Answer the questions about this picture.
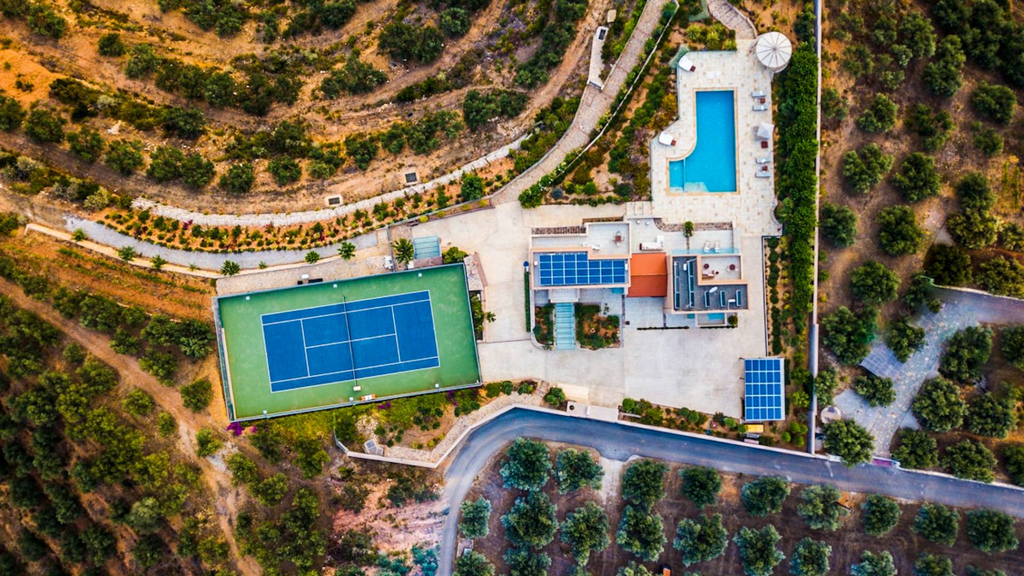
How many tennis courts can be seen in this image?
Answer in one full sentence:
The photo contains exactly 1 tennis court.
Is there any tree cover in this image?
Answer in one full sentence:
Yes, some tree cover is visible.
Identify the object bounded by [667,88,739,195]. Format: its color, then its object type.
blue swimming pool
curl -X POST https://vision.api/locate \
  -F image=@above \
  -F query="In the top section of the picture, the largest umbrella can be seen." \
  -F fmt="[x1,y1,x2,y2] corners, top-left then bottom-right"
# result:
[761,120,778,137]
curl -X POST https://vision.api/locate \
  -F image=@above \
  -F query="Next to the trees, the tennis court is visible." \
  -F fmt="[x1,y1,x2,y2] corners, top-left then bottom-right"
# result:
[212,263,482,422]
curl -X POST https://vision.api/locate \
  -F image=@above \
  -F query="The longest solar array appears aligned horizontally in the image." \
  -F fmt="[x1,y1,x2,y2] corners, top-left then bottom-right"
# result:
[540,253,625,286]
